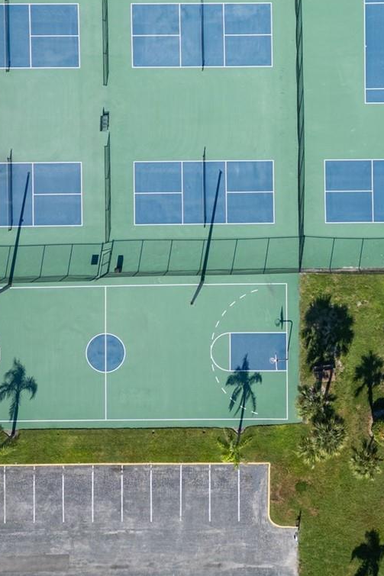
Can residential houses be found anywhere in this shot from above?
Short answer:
No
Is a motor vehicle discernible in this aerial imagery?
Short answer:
No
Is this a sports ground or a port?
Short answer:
sports ground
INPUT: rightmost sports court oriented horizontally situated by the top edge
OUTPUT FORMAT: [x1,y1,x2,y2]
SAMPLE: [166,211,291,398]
[130,1,273,67]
